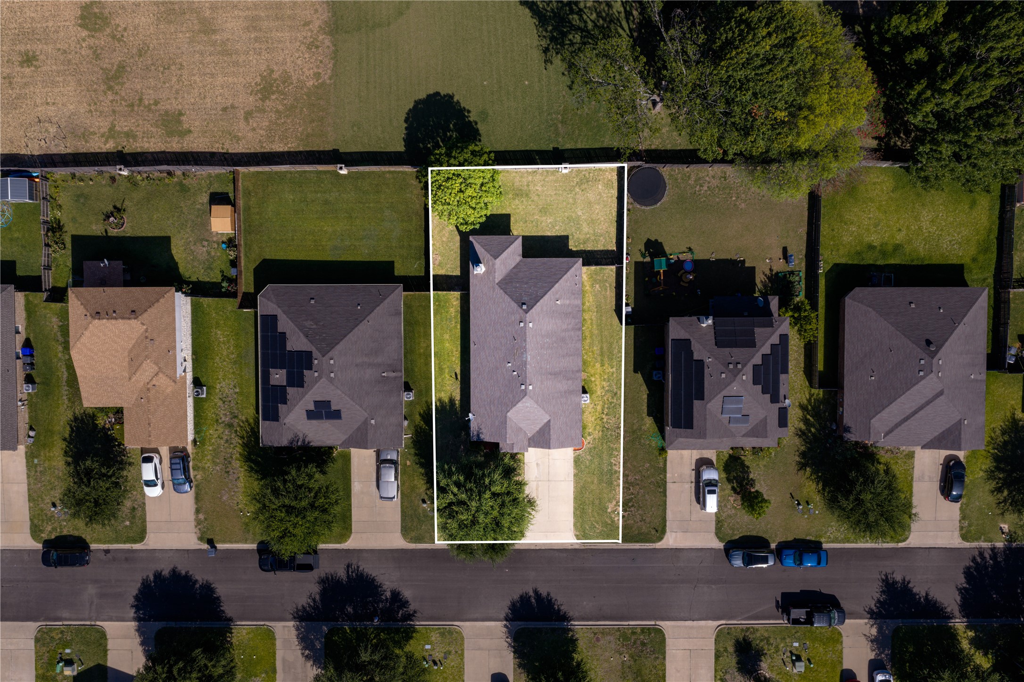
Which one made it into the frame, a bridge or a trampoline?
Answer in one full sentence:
The one in the frame is a trampoline.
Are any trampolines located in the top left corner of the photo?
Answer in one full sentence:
No, no trampoline is visible in the top left corner of the photo.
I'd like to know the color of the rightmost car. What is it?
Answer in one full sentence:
The rightmost car is black.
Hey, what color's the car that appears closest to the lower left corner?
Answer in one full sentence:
The color of the car that appears closest to the lower left corner is black.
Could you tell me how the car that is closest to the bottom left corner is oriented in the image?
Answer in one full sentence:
What the image shows is the car that is closest to the bottom left corner lying from side to side.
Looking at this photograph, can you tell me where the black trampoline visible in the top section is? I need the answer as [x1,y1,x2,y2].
[628,165,669,206]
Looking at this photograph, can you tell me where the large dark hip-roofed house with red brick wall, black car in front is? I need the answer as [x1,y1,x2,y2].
[837,286,988,451]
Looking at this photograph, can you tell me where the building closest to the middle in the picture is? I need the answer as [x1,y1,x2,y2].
[467,235,582,453]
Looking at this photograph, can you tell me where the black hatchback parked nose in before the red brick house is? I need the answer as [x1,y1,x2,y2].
[943,457,969,500]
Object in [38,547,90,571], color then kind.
black car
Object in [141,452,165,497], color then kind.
white car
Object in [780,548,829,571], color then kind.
blue car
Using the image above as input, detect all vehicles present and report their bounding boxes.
[728,548,776,571]
[378,449,400,502]
[943,457,969,500]
[141,452,165,497]
[780,548,829,571]
[169,452,193,495]
[697,463,720,510]
[38,547,90,571]
[255,550,318,575]
[789,604,849,629]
